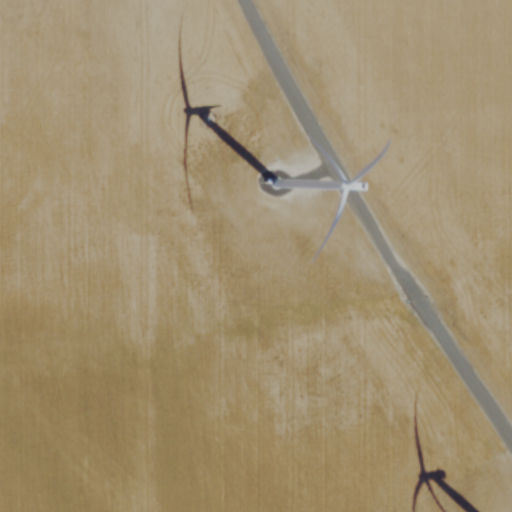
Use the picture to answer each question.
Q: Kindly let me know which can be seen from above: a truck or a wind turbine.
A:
wind turbine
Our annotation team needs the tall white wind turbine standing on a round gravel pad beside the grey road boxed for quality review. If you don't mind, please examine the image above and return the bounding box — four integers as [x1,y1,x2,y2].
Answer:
[270,129,396,265]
